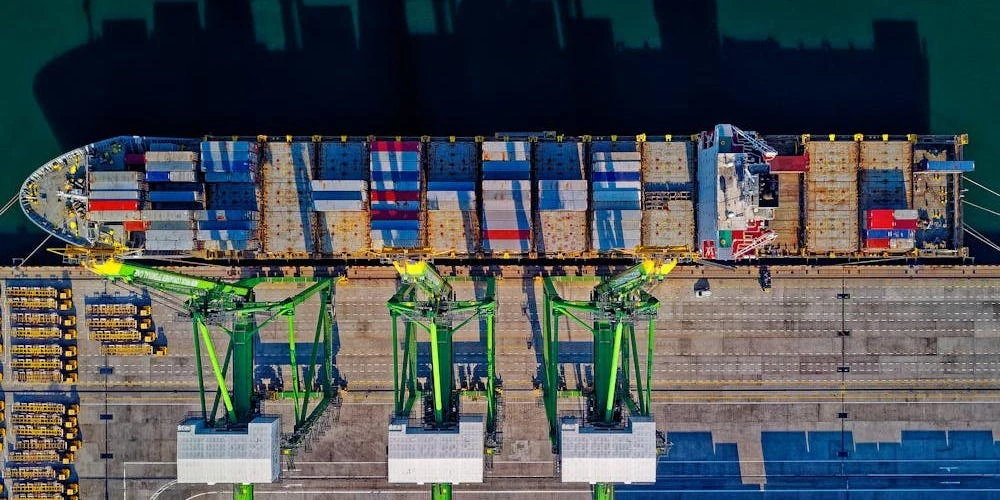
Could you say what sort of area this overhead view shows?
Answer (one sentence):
The picture captures a port.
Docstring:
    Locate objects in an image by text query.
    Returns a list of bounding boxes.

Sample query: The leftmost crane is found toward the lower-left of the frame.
[43,242,350,500]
